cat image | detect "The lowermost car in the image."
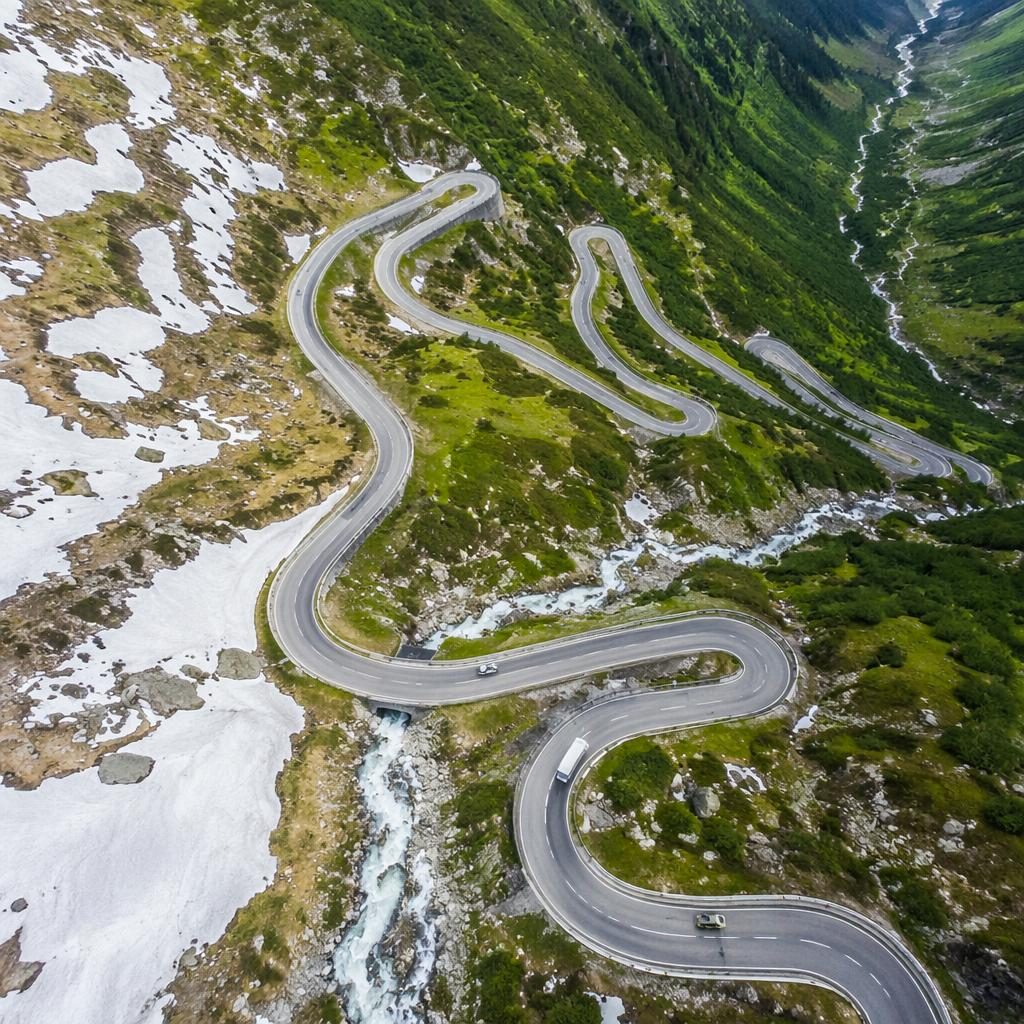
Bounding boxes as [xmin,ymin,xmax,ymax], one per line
[694,912,726,929]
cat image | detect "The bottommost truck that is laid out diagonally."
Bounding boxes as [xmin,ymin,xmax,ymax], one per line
[554,732,597,781]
